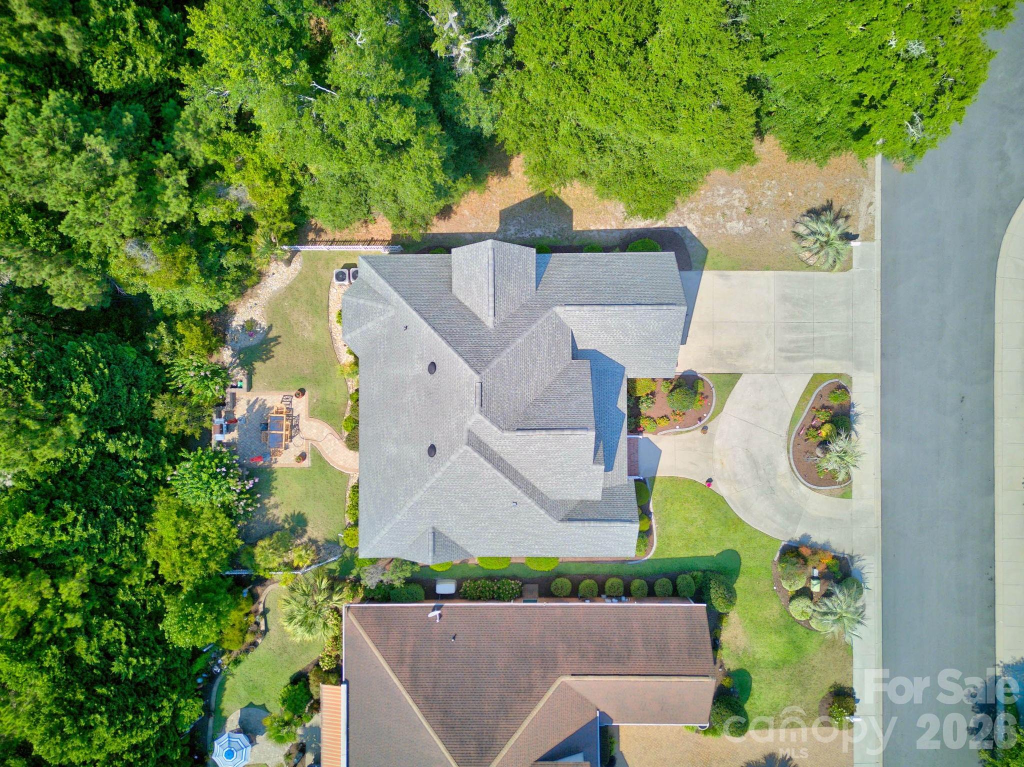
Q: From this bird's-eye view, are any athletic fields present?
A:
No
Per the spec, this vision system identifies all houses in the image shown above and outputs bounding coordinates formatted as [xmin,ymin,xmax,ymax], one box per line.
[341,241,687,566]
[342,596,716,767]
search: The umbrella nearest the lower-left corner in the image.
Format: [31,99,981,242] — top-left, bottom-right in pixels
[210,730,250,767]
